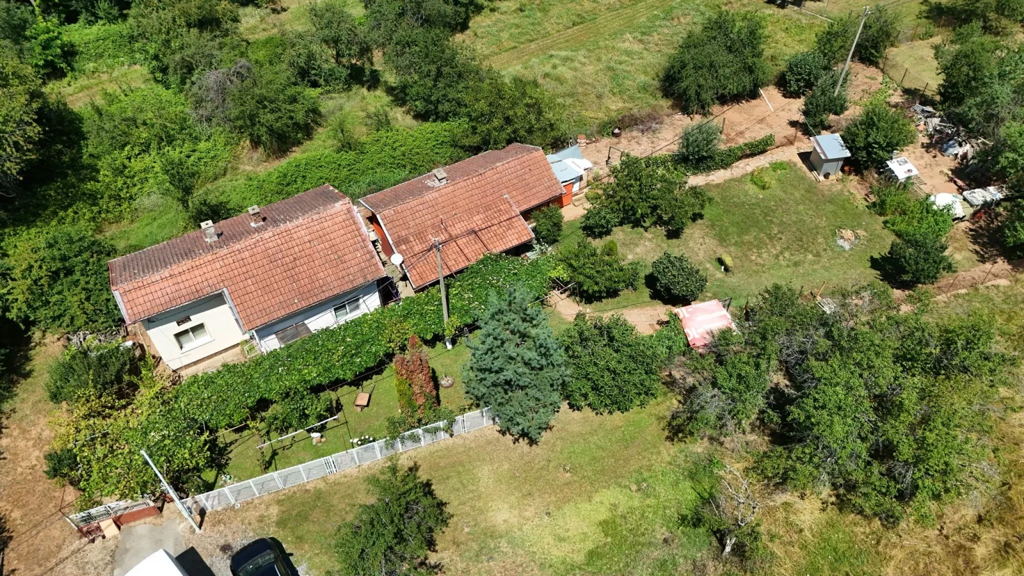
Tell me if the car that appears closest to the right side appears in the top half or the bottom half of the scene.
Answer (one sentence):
The car that appears closest to the right side is in the bottom half of the image.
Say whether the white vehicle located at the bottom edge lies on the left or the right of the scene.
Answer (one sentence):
It is on the left.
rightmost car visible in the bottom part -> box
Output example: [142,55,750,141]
[232,533,291,576]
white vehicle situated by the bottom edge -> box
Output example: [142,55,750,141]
[126,553,183,576]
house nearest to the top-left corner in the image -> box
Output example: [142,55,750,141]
[105,187,391,367]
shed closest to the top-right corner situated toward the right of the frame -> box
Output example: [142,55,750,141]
[810,134,850,181]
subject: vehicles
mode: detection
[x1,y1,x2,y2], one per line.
[232,533,291,576]
[126,553,183,576]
